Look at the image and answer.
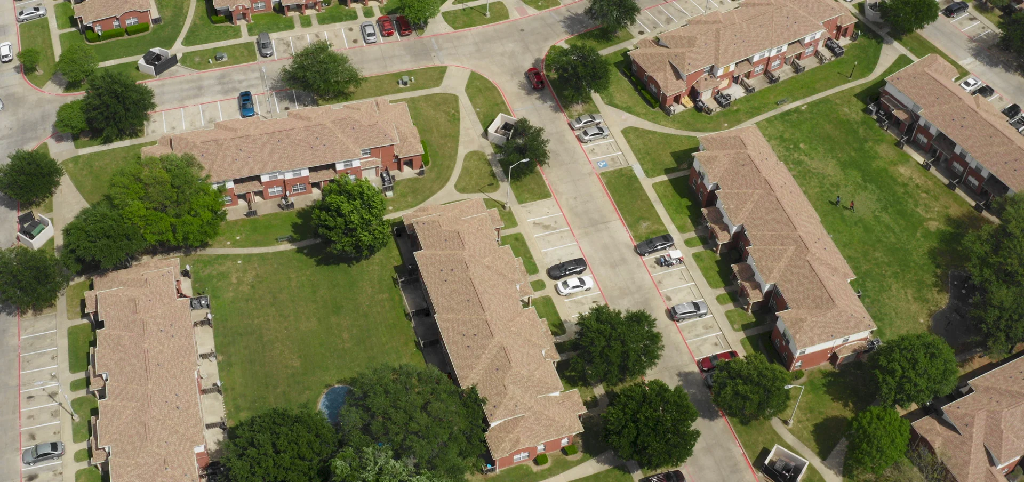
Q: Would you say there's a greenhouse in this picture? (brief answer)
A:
No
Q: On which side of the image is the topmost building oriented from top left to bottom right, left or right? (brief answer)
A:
right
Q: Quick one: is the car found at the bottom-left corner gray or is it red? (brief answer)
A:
gray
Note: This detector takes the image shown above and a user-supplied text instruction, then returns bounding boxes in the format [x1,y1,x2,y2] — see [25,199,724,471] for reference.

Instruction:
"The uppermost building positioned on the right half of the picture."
[626,0,869,108]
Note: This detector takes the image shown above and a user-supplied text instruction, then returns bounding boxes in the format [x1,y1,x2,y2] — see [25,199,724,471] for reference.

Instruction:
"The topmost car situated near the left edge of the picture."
[15,7,49,23]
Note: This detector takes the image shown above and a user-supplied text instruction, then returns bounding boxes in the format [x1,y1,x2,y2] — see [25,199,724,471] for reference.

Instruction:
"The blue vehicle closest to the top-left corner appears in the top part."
[239,91,255,117]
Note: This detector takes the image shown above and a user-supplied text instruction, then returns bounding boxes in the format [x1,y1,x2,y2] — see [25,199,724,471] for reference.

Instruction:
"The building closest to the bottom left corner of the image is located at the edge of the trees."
[85,258,214,482]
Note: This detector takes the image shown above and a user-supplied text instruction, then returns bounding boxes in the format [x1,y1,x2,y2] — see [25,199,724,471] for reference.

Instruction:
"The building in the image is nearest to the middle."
[401,198,586,471]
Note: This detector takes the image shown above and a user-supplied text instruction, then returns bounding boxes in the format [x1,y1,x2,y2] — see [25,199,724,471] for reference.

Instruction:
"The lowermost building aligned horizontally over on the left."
[141,96,426,210]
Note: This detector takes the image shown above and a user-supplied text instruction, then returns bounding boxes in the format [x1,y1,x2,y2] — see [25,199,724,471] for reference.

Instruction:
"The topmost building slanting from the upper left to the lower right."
[879,53,1024,214]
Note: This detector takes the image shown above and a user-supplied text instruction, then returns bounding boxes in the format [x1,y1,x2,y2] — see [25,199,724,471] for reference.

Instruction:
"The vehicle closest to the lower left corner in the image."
[22,440,66,464]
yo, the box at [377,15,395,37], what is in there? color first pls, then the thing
red car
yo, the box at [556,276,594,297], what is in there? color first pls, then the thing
white car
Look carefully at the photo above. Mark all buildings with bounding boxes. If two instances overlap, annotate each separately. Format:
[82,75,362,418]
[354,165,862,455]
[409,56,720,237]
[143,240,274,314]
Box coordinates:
[909,356,1024,482]
[879,53,1024,214]
[141,96,426,210]
[401,198,586,471]
[626,0,869,108]
[691,124,877,370]
[213,0,327,24]
[68,0,159,30]
[85,258,214,482]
